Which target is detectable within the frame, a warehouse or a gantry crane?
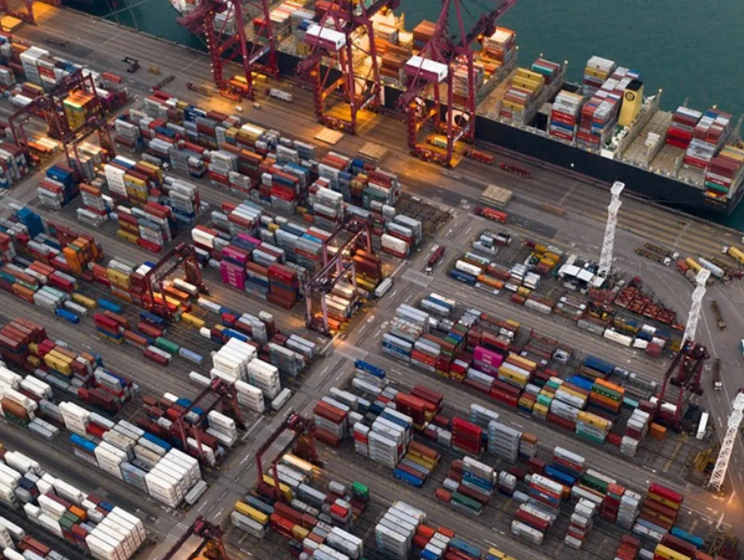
gantry crane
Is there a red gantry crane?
Yes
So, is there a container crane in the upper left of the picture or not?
Yes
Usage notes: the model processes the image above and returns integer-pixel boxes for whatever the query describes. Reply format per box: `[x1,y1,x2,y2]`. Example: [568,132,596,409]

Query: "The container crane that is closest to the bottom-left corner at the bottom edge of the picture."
[162,519,229,560]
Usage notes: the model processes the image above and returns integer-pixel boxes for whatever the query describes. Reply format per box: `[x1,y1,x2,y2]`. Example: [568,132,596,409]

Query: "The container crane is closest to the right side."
[653,346,711,430]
